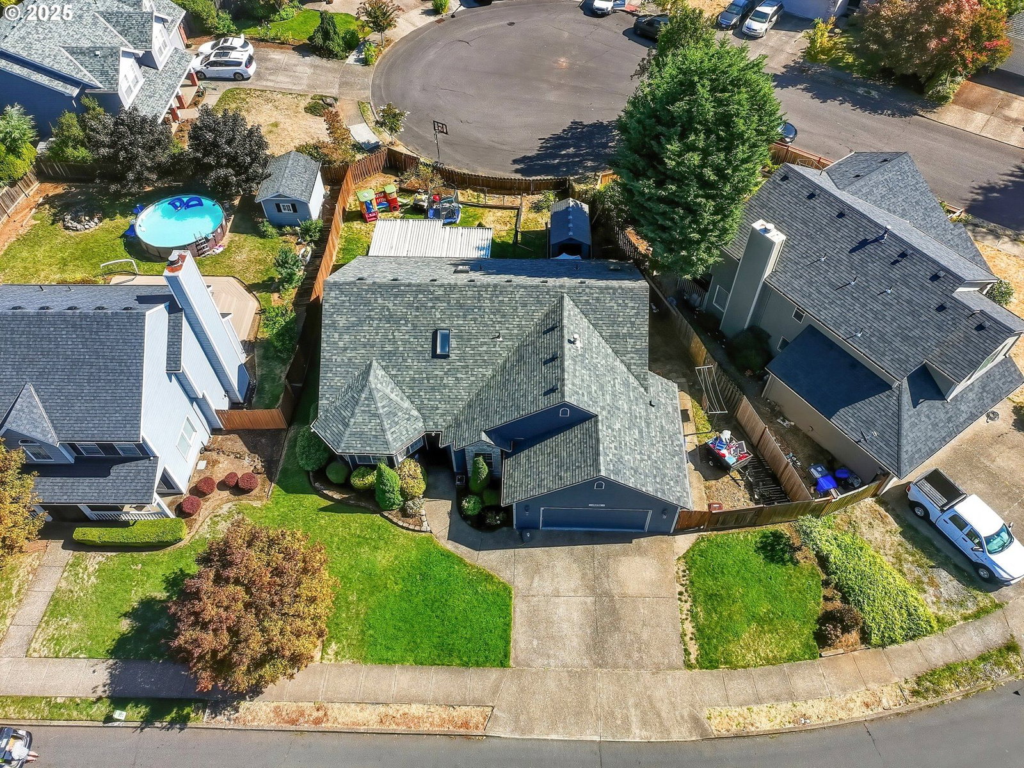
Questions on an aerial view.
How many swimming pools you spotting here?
1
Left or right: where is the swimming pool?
left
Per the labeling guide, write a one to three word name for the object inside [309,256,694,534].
house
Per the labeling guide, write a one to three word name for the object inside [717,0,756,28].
car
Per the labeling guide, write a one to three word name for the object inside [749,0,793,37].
car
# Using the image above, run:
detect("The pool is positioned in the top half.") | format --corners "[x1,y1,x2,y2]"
[135,193,231,260]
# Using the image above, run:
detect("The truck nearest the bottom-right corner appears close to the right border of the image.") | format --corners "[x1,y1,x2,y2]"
[907,470,1024,590]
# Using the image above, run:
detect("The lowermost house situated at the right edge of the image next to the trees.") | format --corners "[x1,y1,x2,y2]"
[702,151,1024,487]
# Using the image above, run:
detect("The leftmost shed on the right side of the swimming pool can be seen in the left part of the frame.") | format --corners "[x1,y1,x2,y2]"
[256,153,324,225]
